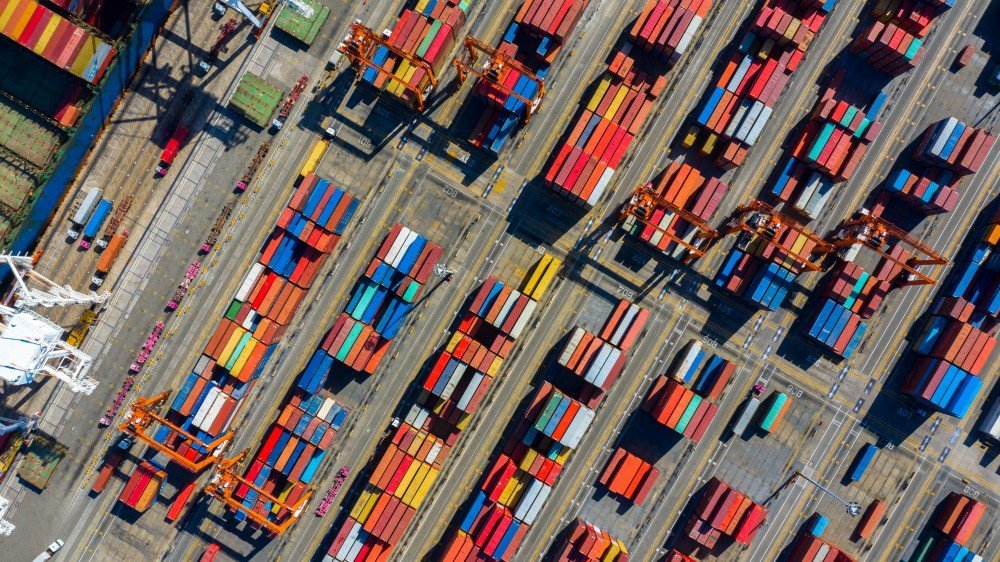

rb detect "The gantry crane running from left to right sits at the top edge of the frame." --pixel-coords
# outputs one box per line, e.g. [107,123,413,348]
[216,0,308,44]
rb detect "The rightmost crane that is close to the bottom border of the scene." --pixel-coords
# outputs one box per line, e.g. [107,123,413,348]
[200,443,320,537]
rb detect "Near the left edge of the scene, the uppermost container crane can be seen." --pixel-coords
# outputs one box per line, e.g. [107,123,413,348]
[0,245,115,394]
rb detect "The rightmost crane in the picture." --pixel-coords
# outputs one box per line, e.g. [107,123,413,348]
[820,215,951,291]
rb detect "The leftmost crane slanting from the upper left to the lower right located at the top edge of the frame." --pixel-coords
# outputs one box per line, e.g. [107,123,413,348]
[338,18,444,117]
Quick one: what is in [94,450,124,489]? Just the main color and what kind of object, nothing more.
red shipping container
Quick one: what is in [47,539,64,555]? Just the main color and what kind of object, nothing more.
white vehicle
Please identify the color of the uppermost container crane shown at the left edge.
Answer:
white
